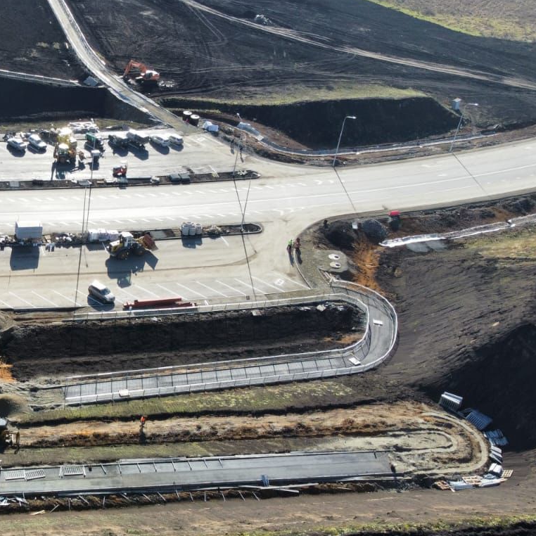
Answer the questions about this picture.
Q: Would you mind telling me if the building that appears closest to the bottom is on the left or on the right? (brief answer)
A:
left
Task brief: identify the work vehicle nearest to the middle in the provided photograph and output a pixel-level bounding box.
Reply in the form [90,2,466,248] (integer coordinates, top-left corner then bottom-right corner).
[111,235,160,258]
